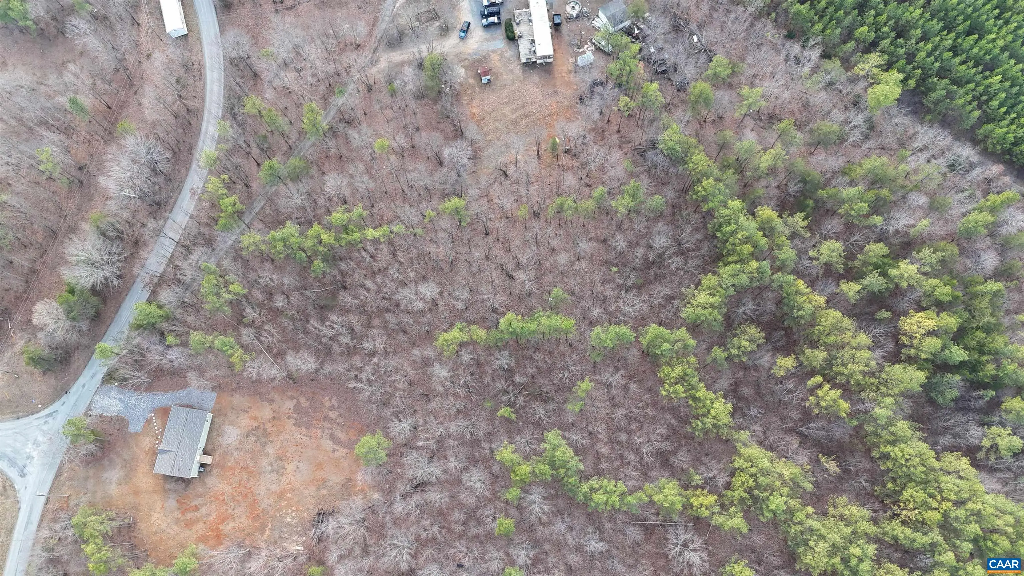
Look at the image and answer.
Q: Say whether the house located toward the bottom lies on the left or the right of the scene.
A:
left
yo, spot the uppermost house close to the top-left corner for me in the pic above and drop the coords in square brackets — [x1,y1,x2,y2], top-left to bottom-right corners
[160,0,188,38]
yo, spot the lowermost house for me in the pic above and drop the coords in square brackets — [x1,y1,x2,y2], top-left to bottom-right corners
[153,406,214,478]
